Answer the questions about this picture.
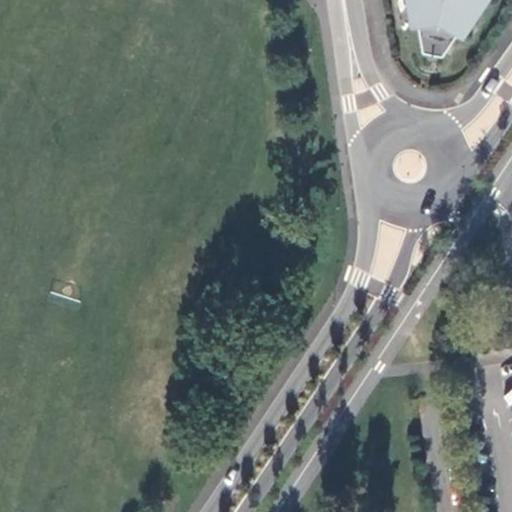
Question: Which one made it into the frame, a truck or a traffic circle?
traffic circle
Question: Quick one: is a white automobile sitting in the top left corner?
No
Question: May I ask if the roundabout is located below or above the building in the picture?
below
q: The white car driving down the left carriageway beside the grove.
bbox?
[223,466,240,487]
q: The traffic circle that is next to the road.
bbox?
[345,96,486,237]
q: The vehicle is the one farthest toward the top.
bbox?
[482,74,502,96]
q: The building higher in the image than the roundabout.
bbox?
[398,0,488,58]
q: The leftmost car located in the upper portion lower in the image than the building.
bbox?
[421,192,436,214]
